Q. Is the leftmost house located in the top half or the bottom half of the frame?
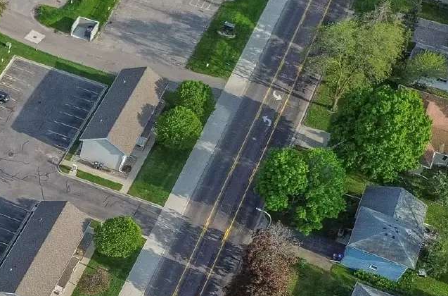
bottom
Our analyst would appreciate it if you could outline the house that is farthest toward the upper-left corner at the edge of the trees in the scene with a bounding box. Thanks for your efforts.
[79,66,168,166]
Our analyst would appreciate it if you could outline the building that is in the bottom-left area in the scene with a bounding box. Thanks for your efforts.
[0,200,96,296]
